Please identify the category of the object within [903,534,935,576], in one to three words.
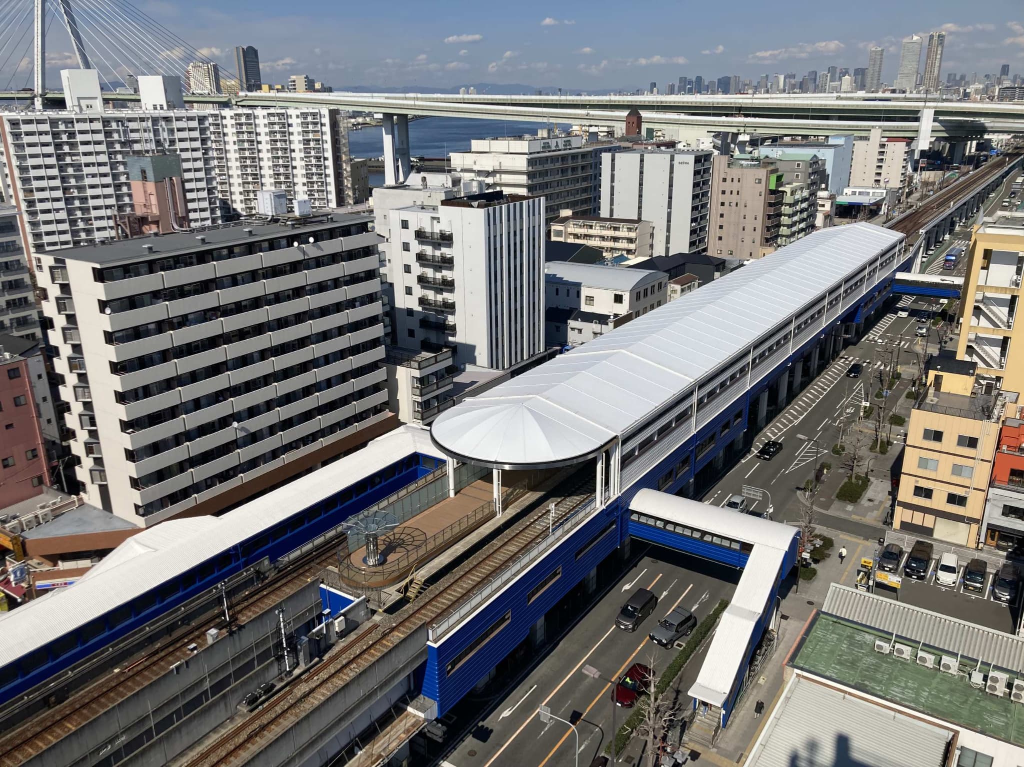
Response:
vehicle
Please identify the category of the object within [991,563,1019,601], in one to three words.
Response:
car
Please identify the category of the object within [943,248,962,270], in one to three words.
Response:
vehicle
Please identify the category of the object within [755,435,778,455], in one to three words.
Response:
car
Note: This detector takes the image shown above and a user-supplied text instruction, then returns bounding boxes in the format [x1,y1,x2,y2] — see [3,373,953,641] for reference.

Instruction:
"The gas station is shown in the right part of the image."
[847,186,893,216]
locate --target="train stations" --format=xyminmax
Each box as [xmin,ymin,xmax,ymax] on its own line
[284,223,908,758]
